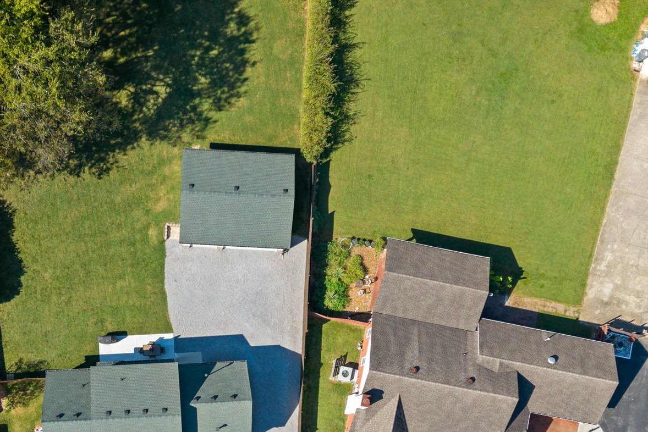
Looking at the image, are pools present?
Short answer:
No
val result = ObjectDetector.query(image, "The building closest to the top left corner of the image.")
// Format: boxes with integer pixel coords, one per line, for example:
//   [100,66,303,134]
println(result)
[179,147,295,257]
